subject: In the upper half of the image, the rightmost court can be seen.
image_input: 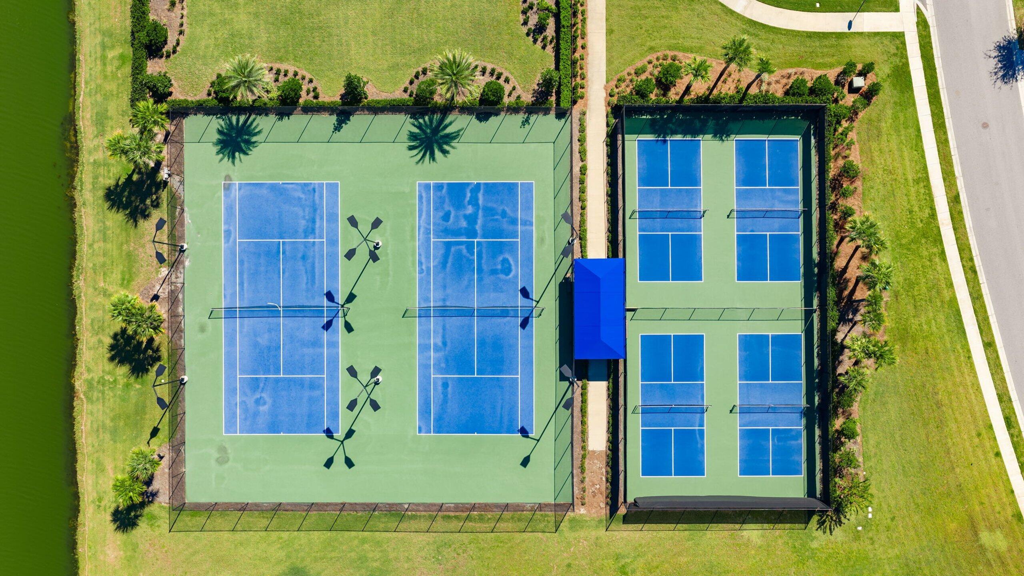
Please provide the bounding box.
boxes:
[719,112,817,308]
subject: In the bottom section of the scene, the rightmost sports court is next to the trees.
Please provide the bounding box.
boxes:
[721,308,820,501]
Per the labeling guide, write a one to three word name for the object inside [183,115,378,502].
tennis court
